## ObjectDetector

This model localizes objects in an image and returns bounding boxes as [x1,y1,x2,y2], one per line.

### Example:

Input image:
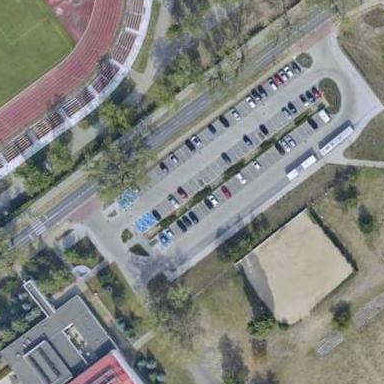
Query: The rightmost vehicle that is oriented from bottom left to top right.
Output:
[319,126,356,157]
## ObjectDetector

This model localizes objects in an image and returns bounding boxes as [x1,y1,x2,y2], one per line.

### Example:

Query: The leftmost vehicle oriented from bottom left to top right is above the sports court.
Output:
[286,155,316,181]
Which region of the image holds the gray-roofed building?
bottom left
